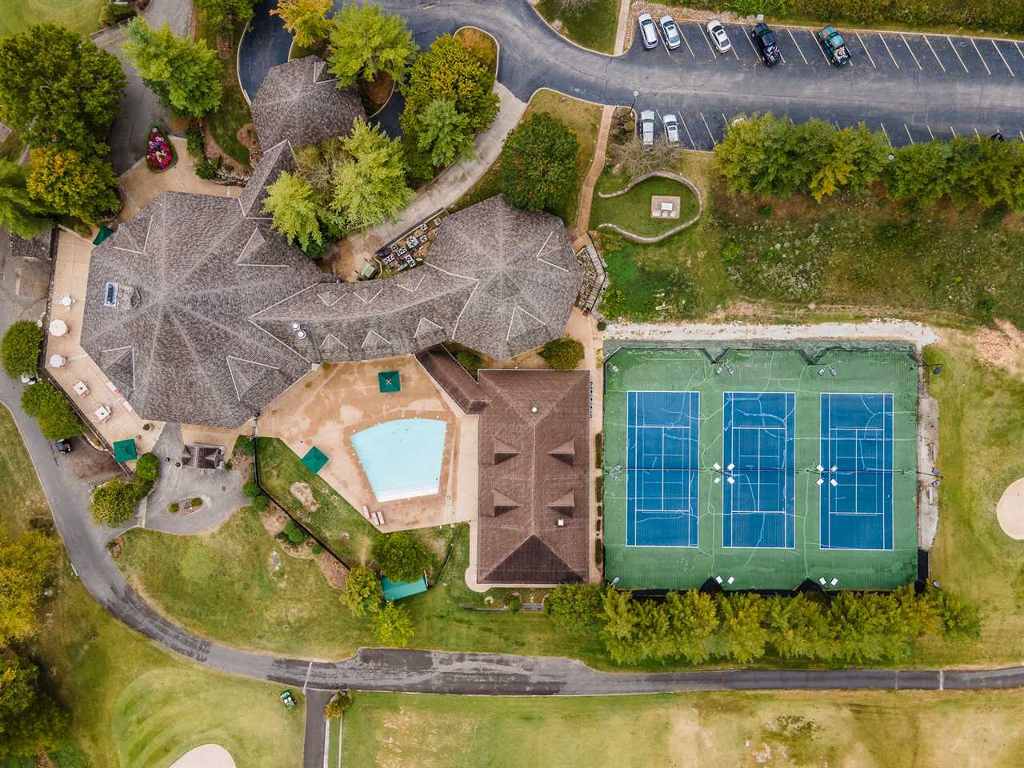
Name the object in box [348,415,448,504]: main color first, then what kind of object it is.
white swimming pool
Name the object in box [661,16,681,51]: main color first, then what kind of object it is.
white car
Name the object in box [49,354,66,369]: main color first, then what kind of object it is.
white umbrella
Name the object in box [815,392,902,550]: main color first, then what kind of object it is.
blue tennis court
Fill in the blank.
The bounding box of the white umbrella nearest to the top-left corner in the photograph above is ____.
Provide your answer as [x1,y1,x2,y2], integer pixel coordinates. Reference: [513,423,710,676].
[49,318,70,336]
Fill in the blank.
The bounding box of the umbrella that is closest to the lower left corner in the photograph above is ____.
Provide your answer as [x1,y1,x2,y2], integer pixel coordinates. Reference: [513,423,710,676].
[113,438,138,462]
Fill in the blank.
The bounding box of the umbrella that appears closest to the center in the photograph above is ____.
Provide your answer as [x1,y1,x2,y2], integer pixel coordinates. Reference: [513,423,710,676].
[379,371,400,392]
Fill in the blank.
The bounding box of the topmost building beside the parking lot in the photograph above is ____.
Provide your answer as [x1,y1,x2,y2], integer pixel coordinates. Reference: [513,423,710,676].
[79,54,584,429]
